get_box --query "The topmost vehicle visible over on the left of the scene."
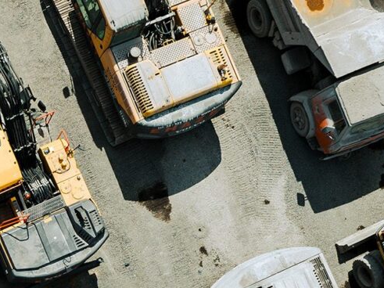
[44,0,242,145]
